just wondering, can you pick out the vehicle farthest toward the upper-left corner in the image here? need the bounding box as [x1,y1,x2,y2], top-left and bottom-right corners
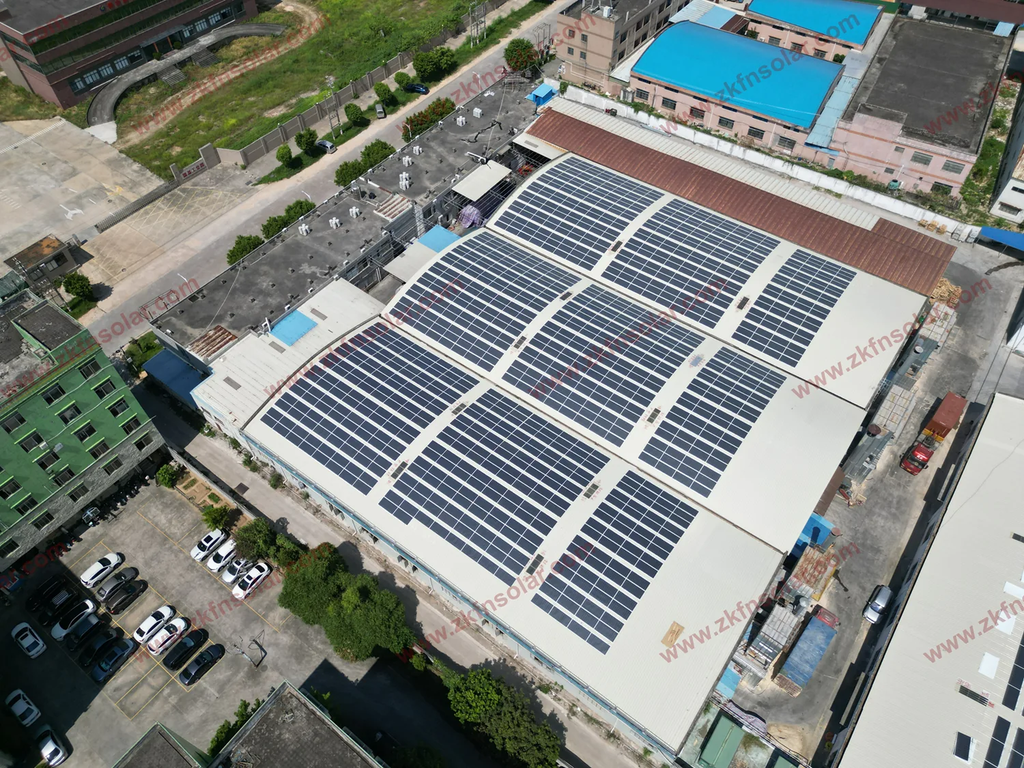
[313,141,339,153]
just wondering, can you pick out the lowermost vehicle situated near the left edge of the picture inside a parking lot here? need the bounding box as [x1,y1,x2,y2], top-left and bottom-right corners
[29,727,77,768]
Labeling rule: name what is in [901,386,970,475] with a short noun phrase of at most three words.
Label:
truck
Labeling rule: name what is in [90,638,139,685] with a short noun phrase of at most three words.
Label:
car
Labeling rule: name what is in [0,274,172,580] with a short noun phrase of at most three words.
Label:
building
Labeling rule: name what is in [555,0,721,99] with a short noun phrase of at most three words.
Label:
building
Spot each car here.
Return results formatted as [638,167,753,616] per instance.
[862,583,891,627]
[146,616,191,659]
[367,719,407,767]
[131,603,178,647]
[178,643,226,689]
[404,84,429,95]
[22,572,70,614]
[94,565,141,605]
[63,609,111,653]
[103,577,149,619]
[375,99,387,119]
[215,554,256,589]
[37,583,84,625]
[313,141,339,153]
[162,627,209,672]
[188,526,230,563]
[50,598,98,641]
[231,561,273,602]
[29,727,77,768]
[79,552,123,590]
[76,624,124,670]
[11,622,49,661]
[90,638,139,685]
[203,536,241,575]
[4,686,45,730]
